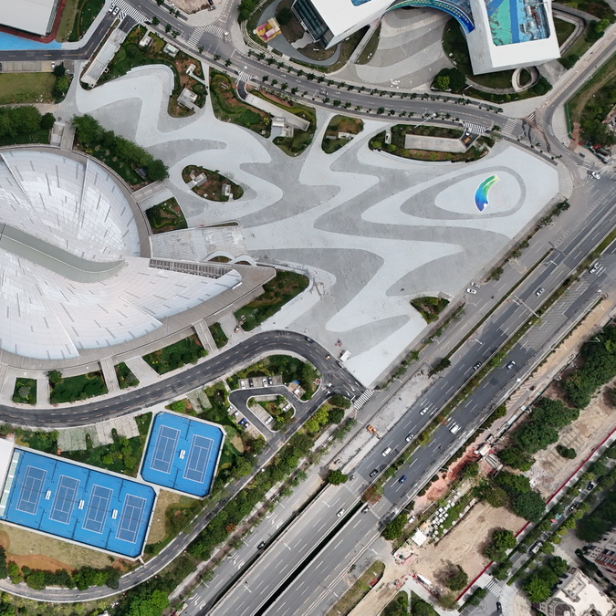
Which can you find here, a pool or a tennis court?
tennis court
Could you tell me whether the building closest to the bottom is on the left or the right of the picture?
right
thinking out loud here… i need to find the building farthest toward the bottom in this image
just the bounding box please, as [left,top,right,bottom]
[516,557,616,616]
